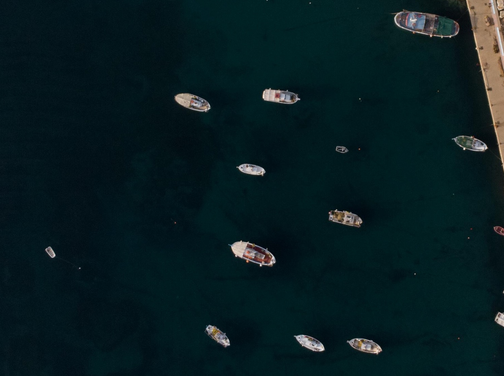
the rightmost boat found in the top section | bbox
[452,136,487,150]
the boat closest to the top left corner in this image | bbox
[174,94,210,111]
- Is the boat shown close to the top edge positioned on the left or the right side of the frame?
right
